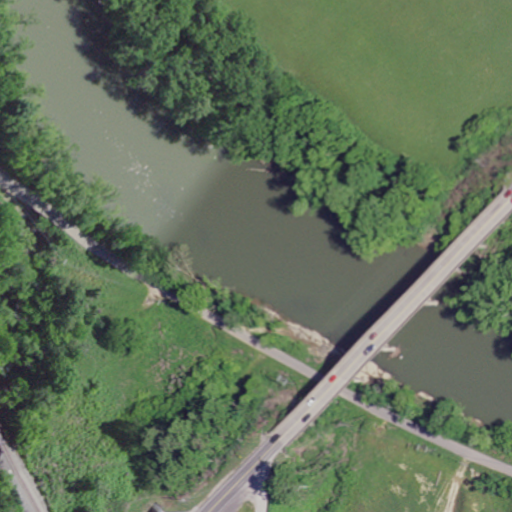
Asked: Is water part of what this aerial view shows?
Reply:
Yes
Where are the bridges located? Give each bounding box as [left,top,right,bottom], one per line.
[264,188,512,456]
